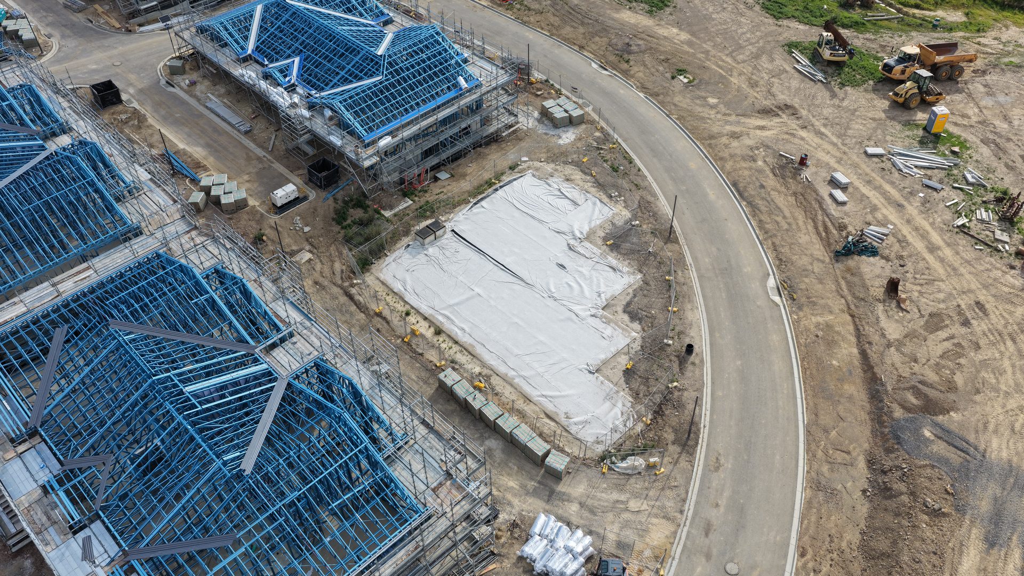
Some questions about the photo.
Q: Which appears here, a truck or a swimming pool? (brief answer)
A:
truck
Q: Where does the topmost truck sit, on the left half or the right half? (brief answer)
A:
right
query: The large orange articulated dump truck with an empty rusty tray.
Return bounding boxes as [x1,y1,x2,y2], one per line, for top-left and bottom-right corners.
[878,37,988,84]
